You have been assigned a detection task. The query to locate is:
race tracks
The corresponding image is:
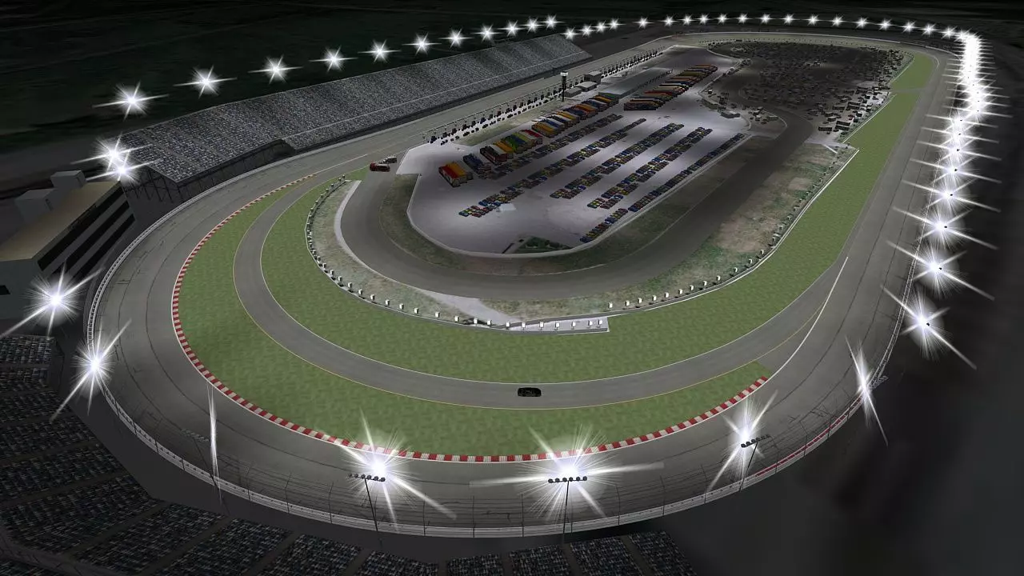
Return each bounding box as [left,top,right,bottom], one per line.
[89,33,958,524]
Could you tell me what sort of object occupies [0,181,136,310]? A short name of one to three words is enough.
building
